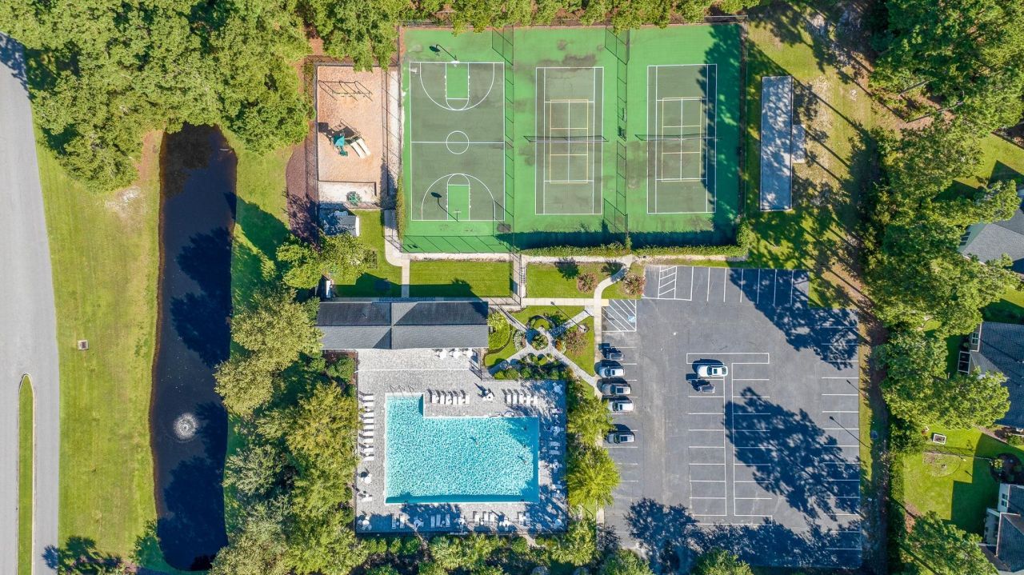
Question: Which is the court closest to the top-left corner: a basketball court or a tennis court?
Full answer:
In the photo, the court closest to the top-left corner shows up as a basketball court.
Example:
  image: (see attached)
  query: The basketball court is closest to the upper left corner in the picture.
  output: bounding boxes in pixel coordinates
[409,62,505,221]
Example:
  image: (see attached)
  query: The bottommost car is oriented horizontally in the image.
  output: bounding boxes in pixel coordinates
[607,433,637,447]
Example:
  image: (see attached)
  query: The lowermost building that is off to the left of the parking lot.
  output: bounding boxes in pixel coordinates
[317,300,488,351]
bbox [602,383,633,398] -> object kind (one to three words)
car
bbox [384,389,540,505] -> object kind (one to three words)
swimming pool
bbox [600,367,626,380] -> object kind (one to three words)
vehicle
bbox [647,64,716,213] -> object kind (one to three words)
tennis court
